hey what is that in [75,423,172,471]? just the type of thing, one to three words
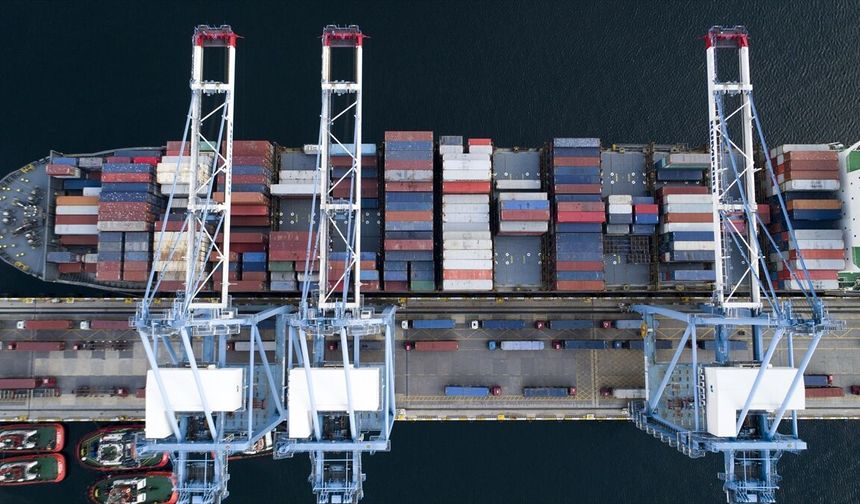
boat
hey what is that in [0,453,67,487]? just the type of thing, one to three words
boat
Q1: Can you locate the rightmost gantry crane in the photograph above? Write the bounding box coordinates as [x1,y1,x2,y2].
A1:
[615,28,837,504]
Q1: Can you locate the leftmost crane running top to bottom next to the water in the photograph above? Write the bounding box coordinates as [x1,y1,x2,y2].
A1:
[123,24,293,504]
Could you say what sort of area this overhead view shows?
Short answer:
port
